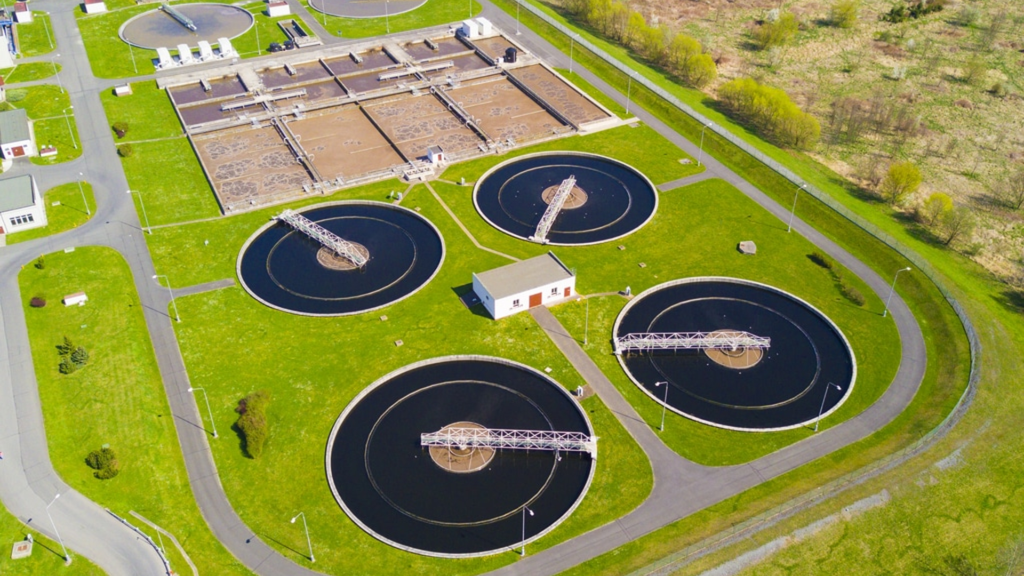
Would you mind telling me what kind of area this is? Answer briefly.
industrial area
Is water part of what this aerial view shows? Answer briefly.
Yes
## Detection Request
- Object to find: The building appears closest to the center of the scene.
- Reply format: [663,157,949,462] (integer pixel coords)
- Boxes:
[471,245,576,319]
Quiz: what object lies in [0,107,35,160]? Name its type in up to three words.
building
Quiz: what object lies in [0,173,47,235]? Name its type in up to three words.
building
